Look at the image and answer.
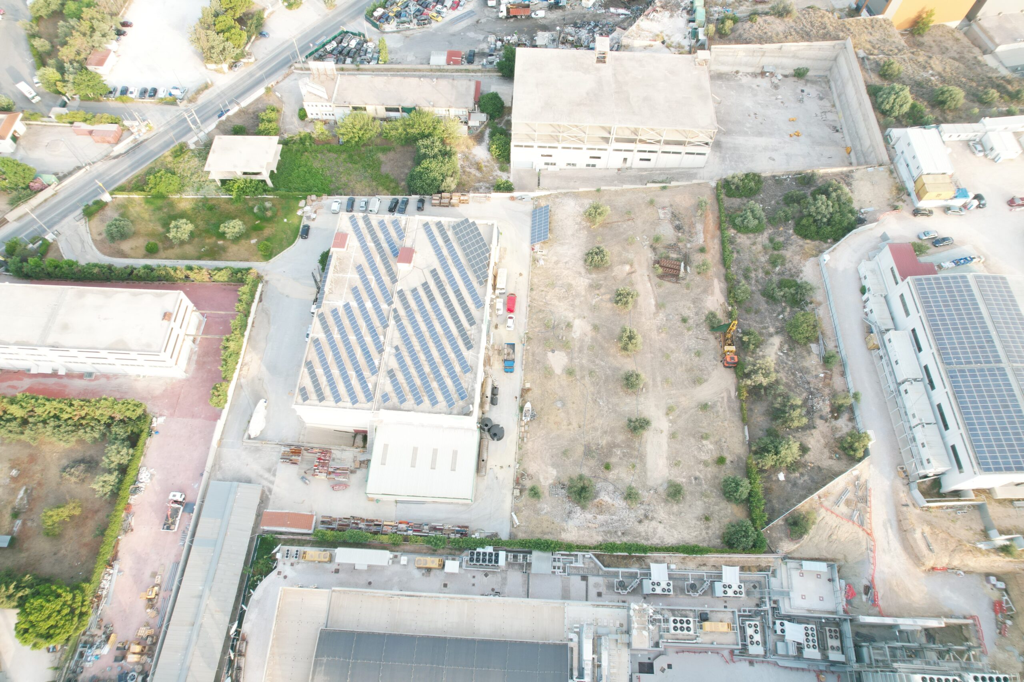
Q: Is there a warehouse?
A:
Yes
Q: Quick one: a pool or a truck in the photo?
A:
truck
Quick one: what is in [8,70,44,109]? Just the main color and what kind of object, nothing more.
white truck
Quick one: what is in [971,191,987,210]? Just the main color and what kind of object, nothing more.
gray car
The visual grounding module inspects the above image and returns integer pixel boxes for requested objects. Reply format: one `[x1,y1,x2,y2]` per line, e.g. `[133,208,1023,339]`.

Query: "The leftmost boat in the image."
[246,392,267,442]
